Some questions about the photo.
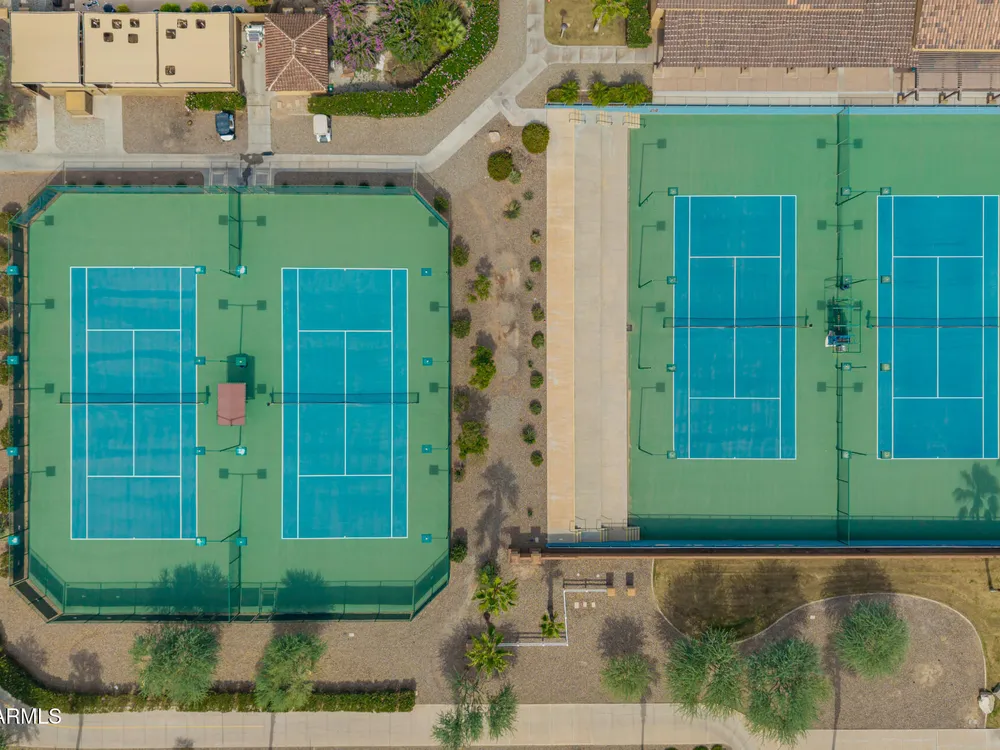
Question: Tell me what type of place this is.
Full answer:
This image shows a sports ground.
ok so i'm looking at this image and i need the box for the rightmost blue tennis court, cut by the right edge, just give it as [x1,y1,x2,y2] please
[837,115,1000,540]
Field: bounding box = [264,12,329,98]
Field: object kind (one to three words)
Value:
building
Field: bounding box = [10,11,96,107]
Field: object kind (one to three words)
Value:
building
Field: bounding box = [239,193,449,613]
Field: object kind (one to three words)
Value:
tennis court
